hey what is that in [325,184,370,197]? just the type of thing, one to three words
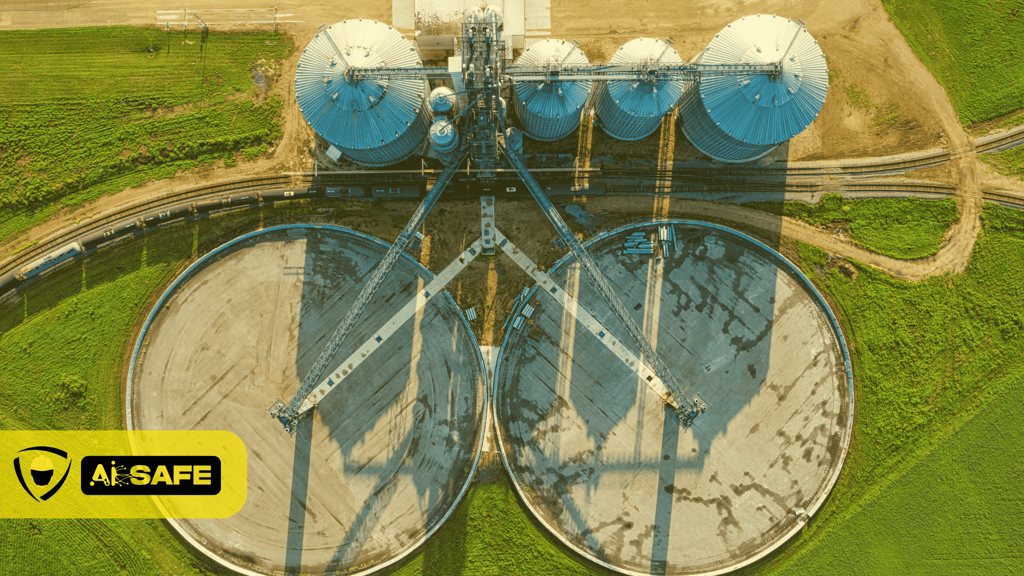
rail car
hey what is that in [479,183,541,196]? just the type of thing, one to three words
rail car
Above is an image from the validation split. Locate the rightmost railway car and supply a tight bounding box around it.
[542,182,609,195]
